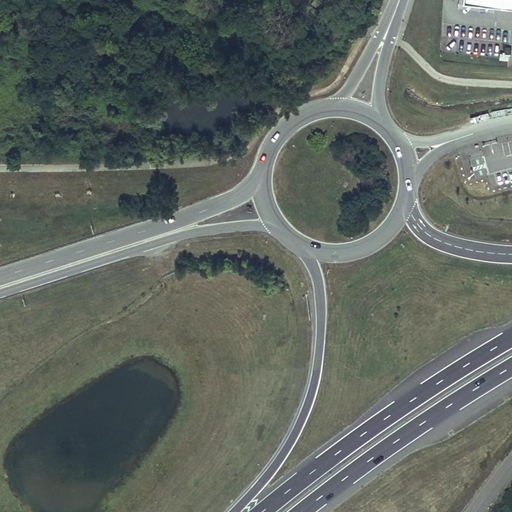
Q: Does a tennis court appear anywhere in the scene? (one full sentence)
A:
No, the frame has no tennis court in it.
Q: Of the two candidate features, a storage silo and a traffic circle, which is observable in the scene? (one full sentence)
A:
This aerial view contains a traffic circle.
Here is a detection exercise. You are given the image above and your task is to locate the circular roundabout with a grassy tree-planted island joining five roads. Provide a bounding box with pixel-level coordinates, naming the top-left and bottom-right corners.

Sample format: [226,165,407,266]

[199,50,428,264]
